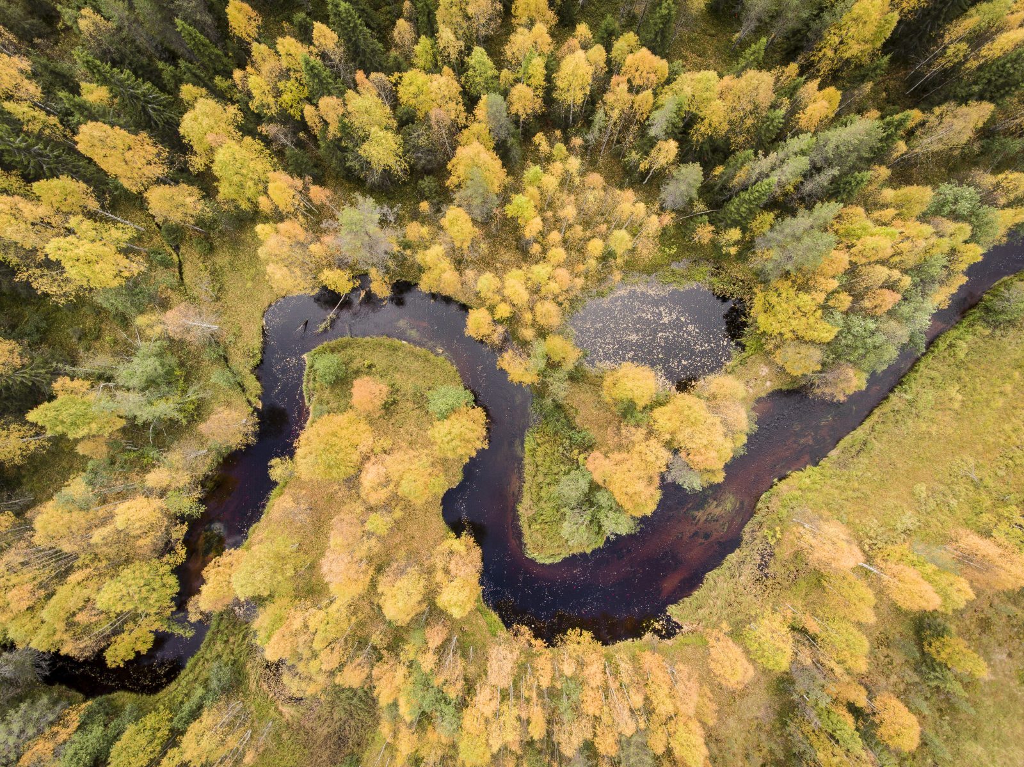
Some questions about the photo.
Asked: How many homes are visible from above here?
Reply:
zero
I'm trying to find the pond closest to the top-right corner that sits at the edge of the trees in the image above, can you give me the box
[564,274,752,392]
